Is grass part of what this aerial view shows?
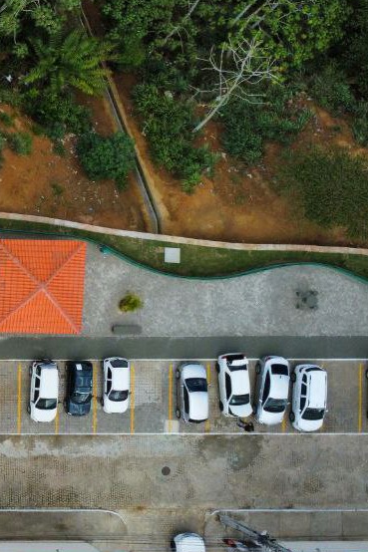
Yes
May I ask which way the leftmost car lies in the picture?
up and down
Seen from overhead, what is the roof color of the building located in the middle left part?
orange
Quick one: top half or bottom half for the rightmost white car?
bottom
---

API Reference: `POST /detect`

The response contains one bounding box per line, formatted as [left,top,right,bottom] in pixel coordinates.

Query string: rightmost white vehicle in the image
[289,364,330,431]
